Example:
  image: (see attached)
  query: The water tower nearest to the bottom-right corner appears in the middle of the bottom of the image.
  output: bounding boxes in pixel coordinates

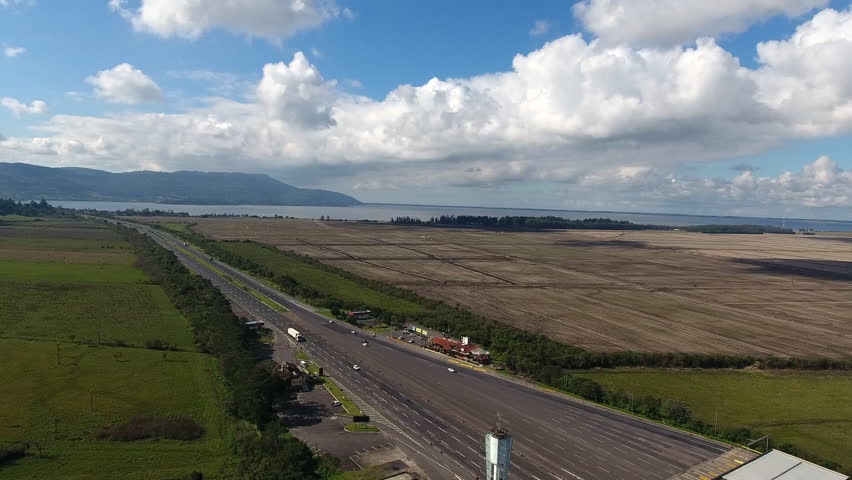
[480,413,508,480]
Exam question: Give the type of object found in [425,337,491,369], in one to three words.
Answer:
building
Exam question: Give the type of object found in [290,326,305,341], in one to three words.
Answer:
vehicle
